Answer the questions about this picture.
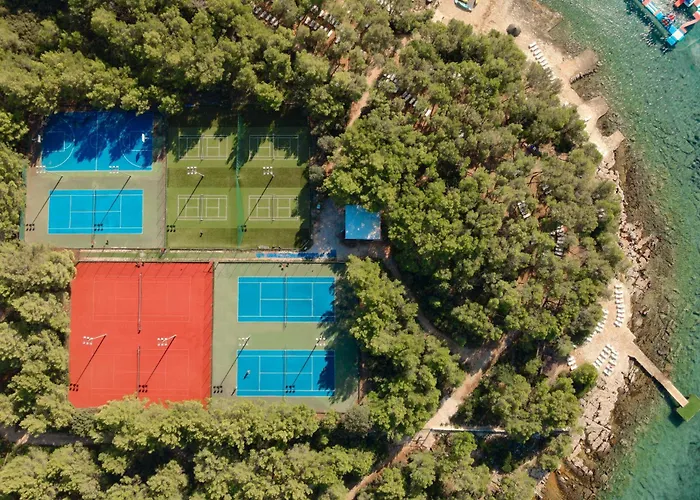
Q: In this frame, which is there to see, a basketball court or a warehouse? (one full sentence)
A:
Looking from above, you can make out a basketball court.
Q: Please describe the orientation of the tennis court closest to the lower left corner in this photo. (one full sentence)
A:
The tennis court closest to the lower left corner has been laid out horizontally relative to the frame.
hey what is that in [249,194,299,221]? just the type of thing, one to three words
sports court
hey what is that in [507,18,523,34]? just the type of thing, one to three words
umbrella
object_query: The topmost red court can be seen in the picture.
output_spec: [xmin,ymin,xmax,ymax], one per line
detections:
[95,274,189,326]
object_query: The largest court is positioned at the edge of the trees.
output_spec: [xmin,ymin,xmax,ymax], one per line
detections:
[42,112,152,171]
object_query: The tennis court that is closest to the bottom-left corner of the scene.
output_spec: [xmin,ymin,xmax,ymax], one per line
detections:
[94,347,188,395]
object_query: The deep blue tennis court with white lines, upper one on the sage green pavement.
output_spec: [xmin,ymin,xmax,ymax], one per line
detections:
[239,274,334,326]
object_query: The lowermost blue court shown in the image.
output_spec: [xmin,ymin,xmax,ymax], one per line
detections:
[239,349,334,400]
